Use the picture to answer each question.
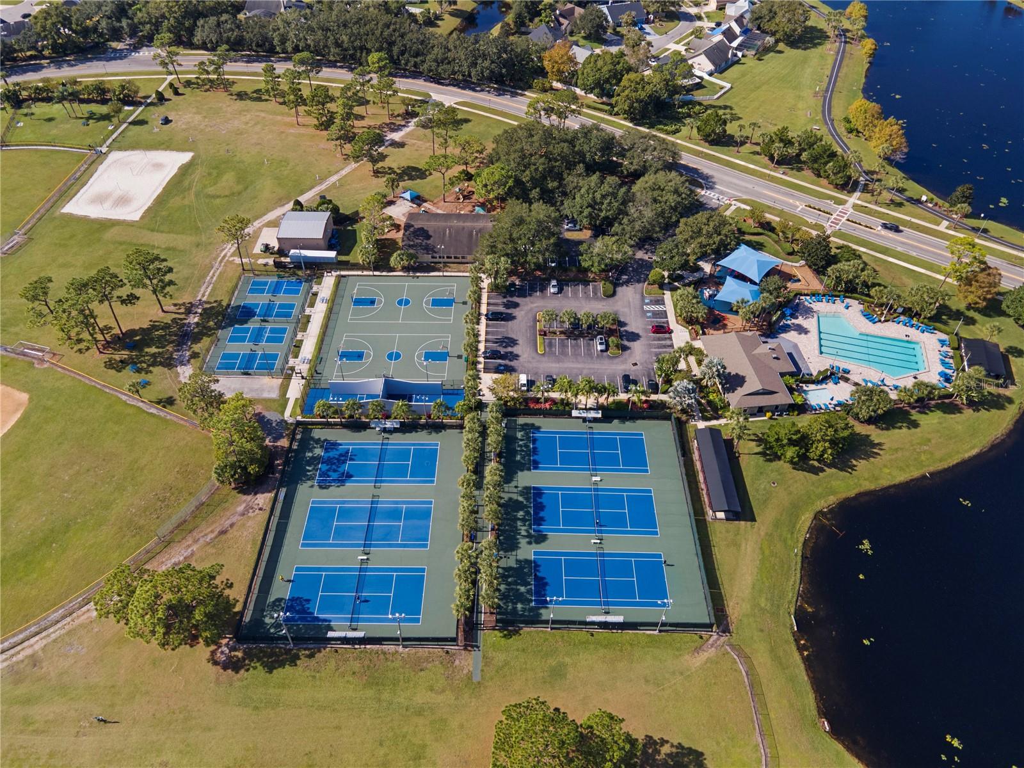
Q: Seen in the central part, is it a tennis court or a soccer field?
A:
tennis court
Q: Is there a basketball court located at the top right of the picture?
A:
No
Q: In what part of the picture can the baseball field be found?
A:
left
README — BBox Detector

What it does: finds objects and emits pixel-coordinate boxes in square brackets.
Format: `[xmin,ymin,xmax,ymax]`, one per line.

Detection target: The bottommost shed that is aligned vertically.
[692,427,740,519]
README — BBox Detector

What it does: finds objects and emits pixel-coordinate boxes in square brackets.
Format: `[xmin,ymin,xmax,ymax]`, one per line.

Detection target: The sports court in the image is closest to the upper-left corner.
[61,151,194,221]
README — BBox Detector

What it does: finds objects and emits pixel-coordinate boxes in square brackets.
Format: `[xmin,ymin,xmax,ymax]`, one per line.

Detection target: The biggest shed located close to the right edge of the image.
[960,336,1005,384]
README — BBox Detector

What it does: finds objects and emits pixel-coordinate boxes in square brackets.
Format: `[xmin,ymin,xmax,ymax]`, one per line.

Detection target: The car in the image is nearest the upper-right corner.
[881,218,900,230]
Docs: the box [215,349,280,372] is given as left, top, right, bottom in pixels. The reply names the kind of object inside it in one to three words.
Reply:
sports court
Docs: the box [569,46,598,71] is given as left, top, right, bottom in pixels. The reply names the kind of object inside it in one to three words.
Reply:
house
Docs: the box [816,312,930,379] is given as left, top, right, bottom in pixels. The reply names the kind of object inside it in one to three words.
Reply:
swimming pool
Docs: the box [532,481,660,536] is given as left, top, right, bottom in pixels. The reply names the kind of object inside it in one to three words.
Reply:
tennis court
